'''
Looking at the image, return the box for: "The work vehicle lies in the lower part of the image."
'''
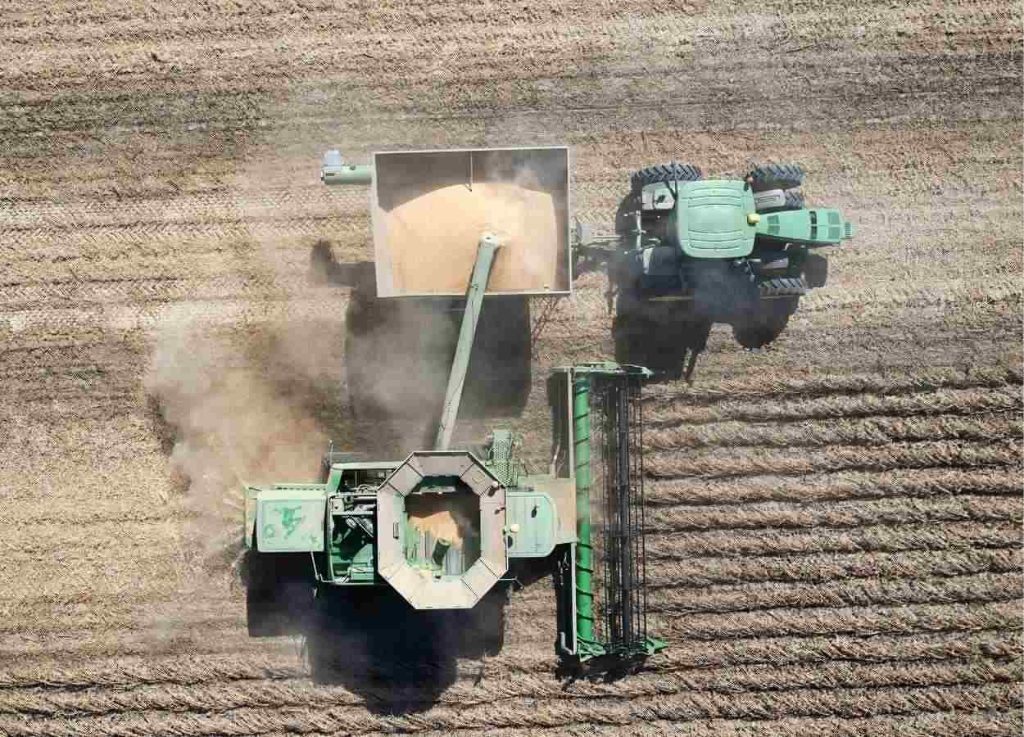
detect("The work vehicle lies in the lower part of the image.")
[249,232,660,658]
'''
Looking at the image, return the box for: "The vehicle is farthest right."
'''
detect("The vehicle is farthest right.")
[616,157,855,305]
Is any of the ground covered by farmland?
Yes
